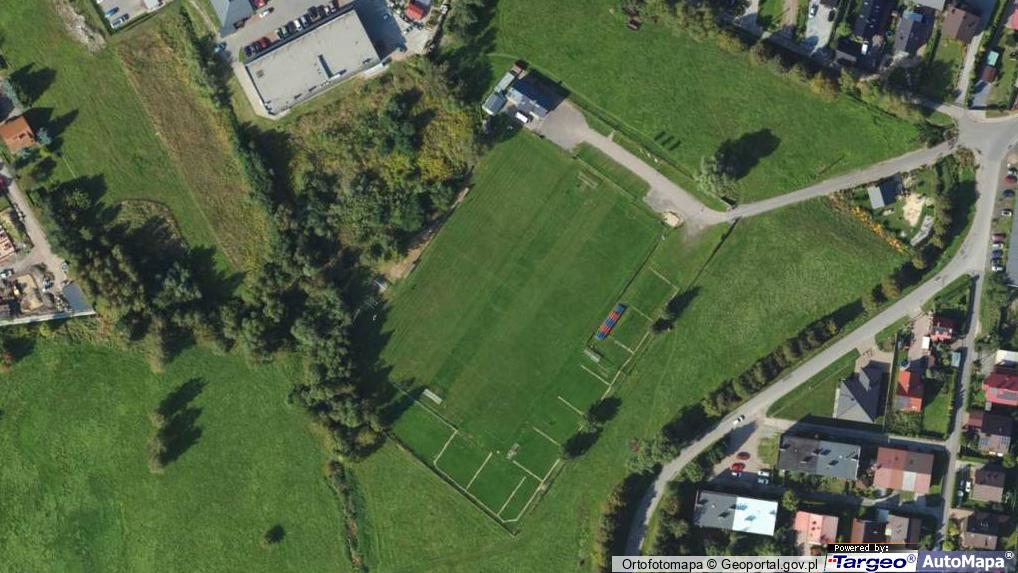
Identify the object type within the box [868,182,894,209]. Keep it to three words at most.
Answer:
shed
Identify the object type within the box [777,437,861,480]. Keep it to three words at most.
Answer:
house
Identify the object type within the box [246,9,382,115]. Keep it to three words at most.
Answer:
building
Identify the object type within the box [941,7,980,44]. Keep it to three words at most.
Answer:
house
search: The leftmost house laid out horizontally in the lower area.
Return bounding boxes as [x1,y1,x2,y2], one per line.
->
[695,489,777,535]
